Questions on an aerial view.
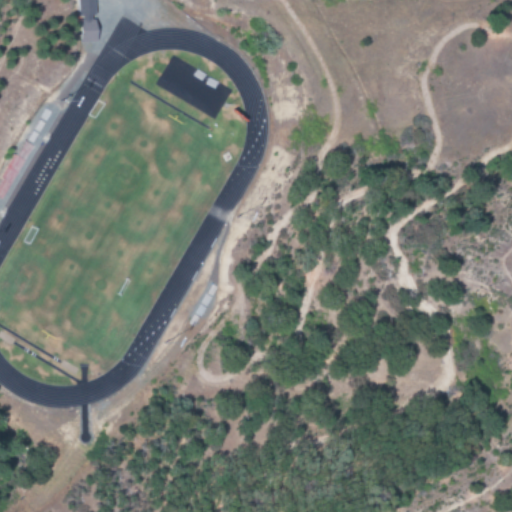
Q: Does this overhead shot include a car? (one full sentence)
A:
No, the picture doesn't show any car.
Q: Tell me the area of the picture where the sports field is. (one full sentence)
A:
The sports field is in the left part of the image.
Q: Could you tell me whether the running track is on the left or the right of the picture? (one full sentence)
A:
You can find the running track on the left side of the picture.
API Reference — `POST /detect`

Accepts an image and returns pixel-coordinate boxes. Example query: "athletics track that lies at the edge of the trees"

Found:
[0,17,269,407]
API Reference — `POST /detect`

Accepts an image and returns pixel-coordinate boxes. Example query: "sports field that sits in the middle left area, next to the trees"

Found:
[0,50,247,385]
